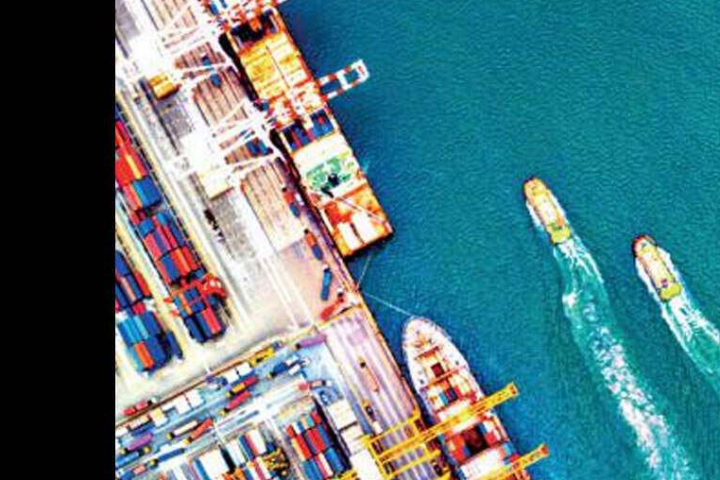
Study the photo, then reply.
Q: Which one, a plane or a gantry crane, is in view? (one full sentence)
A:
It is a gantry crane that can be seen here.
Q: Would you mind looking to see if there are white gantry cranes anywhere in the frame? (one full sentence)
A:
Yes, the image includes a white gantry crane.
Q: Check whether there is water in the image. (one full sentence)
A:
Yes, there's water in this view.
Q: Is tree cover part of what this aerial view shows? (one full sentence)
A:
No, there is no tree cover in the image.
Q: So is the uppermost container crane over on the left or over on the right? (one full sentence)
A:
You can find the uppermost container crane on the left side of the picture.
